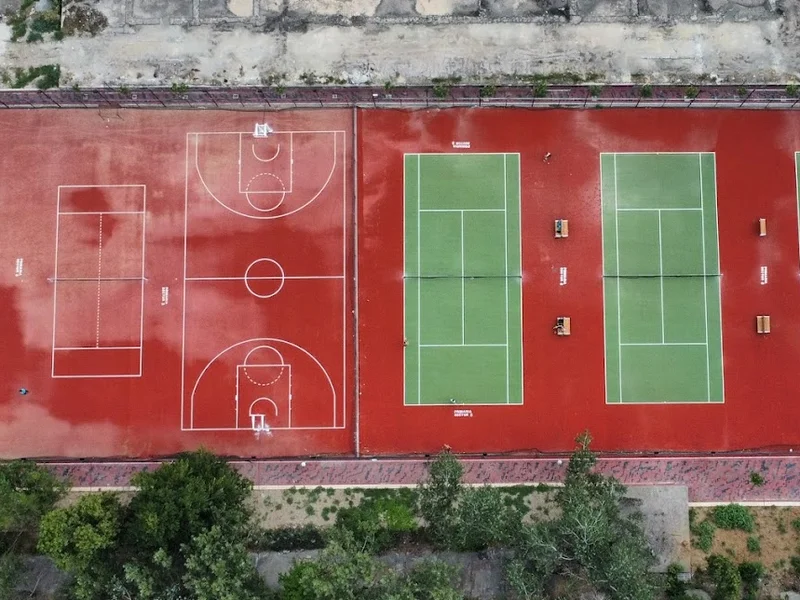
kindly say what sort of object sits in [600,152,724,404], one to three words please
tennis court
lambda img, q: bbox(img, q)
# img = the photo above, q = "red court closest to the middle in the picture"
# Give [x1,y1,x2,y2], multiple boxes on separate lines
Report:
[181,131,345,429]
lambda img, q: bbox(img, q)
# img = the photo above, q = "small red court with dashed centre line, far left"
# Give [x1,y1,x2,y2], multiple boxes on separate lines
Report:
[52,185,146,377]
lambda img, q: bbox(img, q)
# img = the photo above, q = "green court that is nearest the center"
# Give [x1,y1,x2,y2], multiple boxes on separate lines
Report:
[404,153,523,405]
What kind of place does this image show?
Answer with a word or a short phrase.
sports ground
